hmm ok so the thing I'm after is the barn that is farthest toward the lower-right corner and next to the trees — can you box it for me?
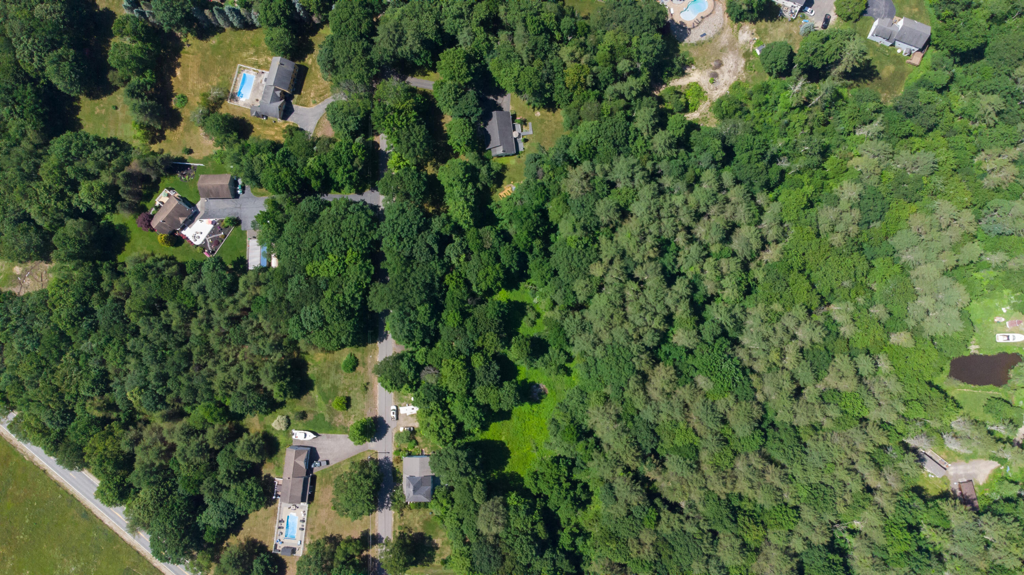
[955,477,980,512]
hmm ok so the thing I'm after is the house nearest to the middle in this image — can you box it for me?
[482,110,533,157]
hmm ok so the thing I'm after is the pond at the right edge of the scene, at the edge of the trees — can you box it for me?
[950,352,1019,386]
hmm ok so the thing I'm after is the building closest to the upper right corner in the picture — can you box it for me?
[868,16,931,67]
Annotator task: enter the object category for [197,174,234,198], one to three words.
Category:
building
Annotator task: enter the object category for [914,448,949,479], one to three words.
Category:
house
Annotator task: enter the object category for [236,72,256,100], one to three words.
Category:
swimming pool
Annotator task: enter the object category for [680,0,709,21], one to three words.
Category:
swimming pool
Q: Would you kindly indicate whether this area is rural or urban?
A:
rural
